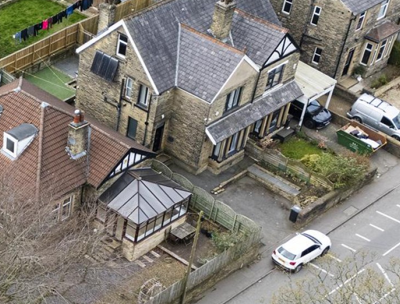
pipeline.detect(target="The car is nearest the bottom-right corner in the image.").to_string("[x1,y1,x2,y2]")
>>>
[269,229,333,274]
